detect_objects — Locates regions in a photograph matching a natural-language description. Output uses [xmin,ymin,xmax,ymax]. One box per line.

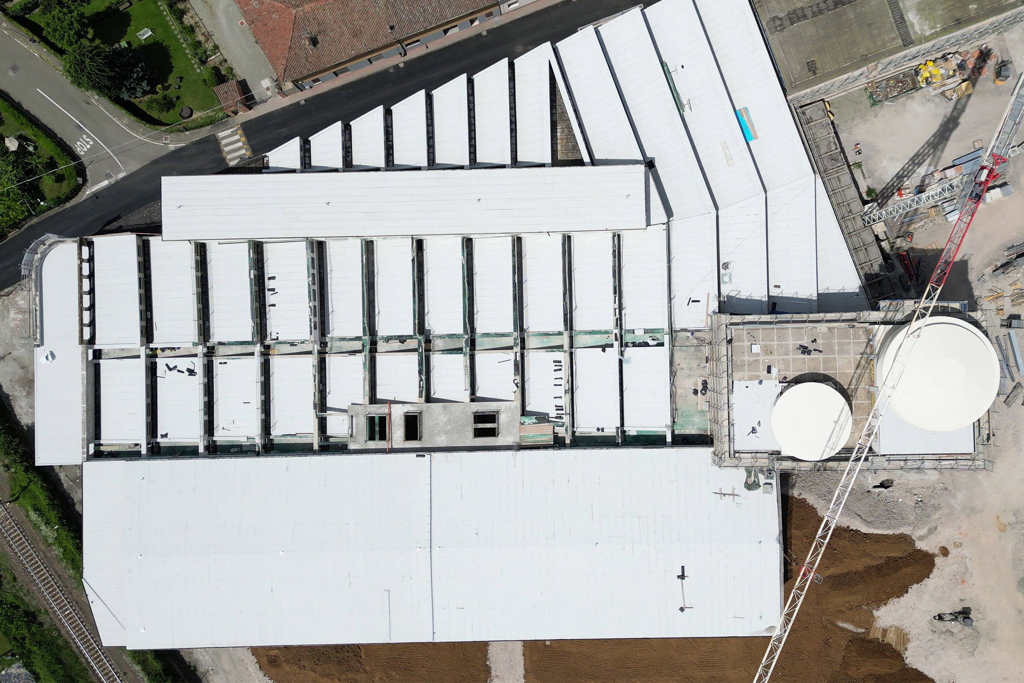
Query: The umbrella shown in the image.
[4,137,23,151]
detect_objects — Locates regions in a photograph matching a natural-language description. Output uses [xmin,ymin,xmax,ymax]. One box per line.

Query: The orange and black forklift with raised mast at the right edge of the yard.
[995,52,1020,84]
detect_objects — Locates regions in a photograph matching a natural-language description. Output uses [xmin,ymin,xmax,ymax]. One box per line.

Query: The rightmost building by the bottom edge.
[81,445,780,652]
